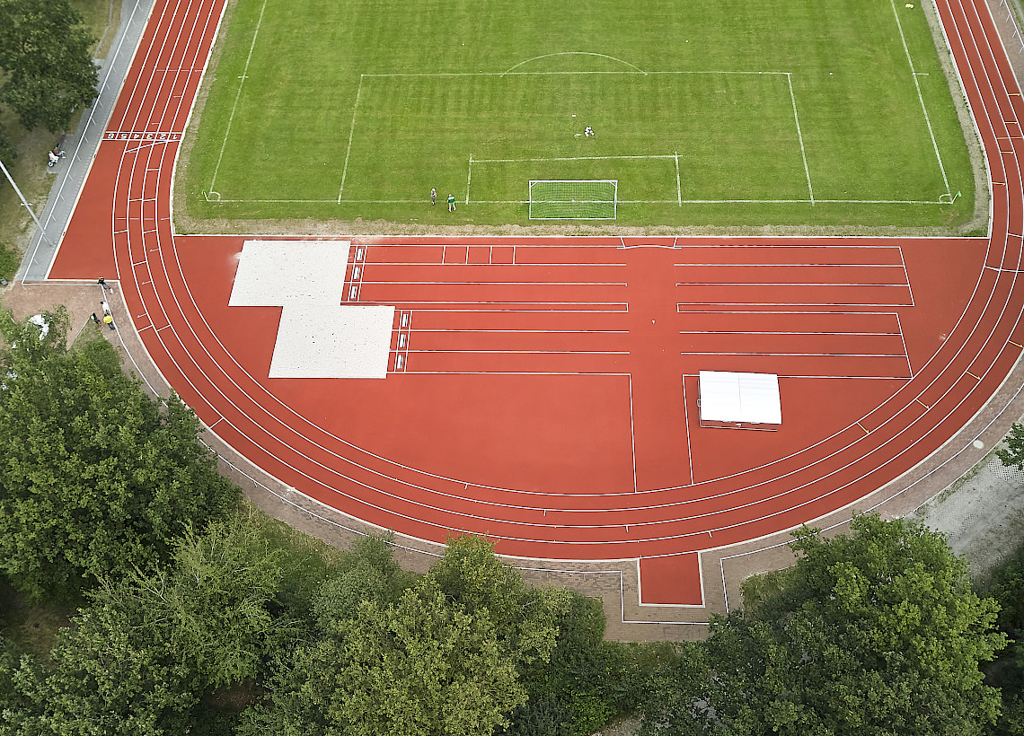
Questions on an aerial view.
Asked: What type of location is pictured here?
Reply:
sports ground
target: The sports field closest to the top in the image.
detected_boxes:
[172,0,992,236]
